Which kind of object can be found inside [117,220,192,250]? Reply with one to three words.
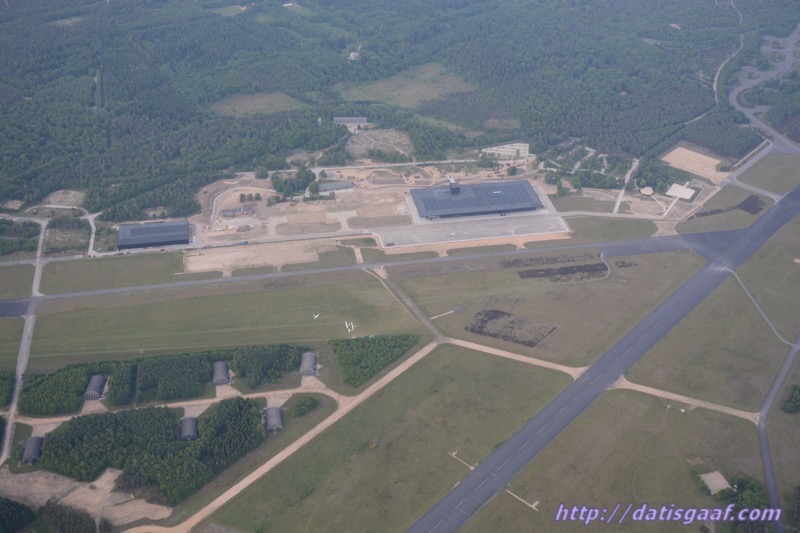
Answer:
hangar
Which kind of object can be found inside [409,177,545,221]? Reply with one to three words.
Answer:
building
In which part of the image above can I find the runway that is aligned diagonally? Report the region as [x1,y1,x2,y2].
[402,184,800,533]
